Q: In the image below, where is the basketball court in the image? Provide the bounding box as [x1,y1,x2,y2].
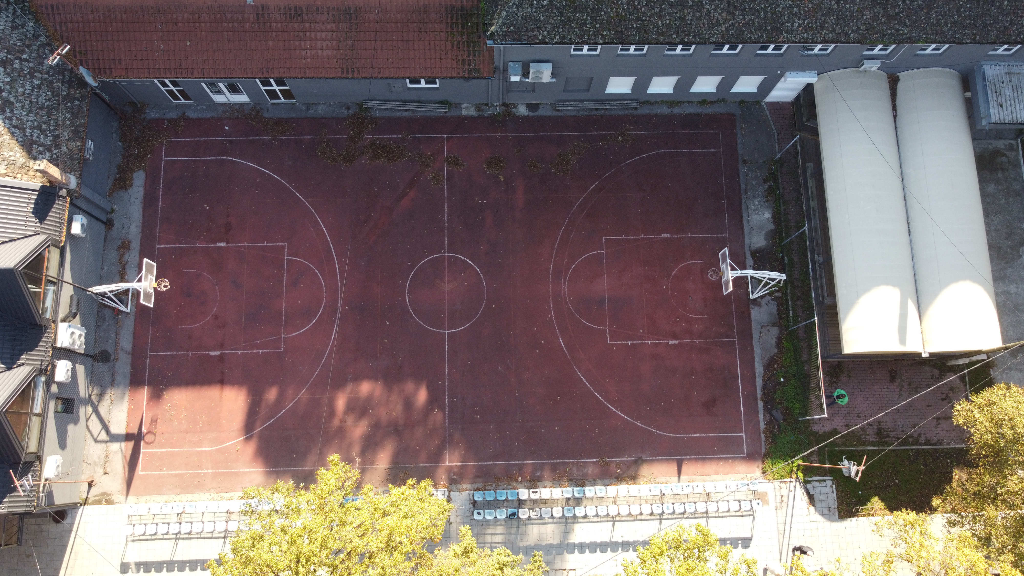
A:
[126,114,763,499]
